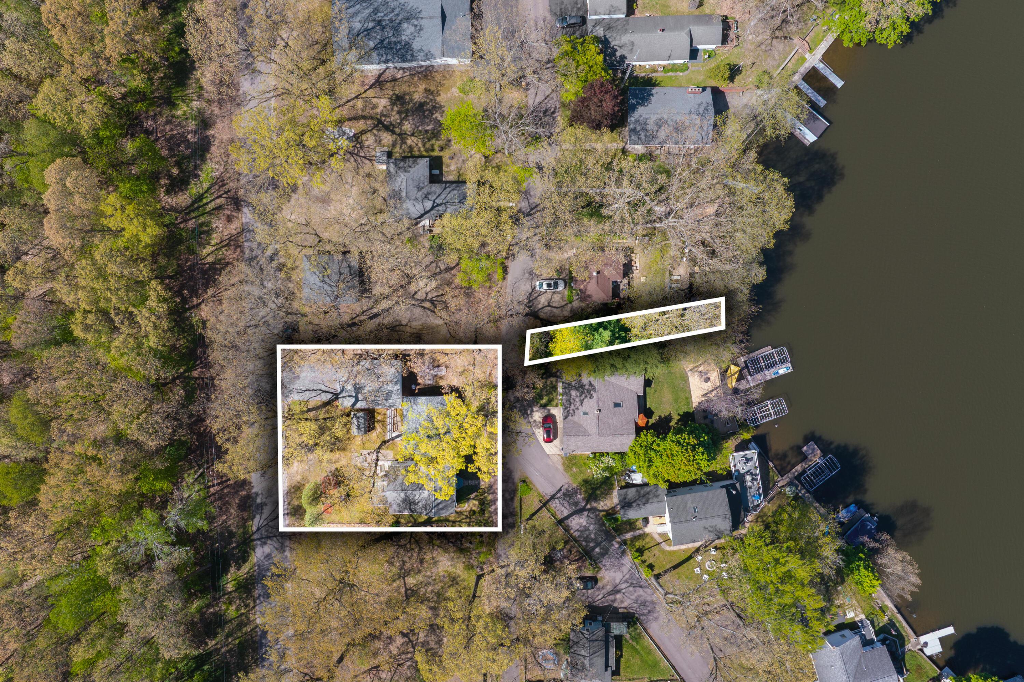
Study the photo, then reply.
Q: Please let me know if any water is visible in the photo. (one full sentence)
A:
Yes, the picture does contain water.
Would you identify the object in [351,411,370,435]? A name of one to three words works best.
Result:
shed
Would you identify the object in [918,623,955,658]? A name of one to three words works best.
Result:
pier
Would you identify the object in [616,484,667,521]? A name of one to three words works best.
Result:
building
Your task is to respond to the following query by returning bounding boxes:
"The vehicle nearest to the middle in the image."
[535,278,565,293]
